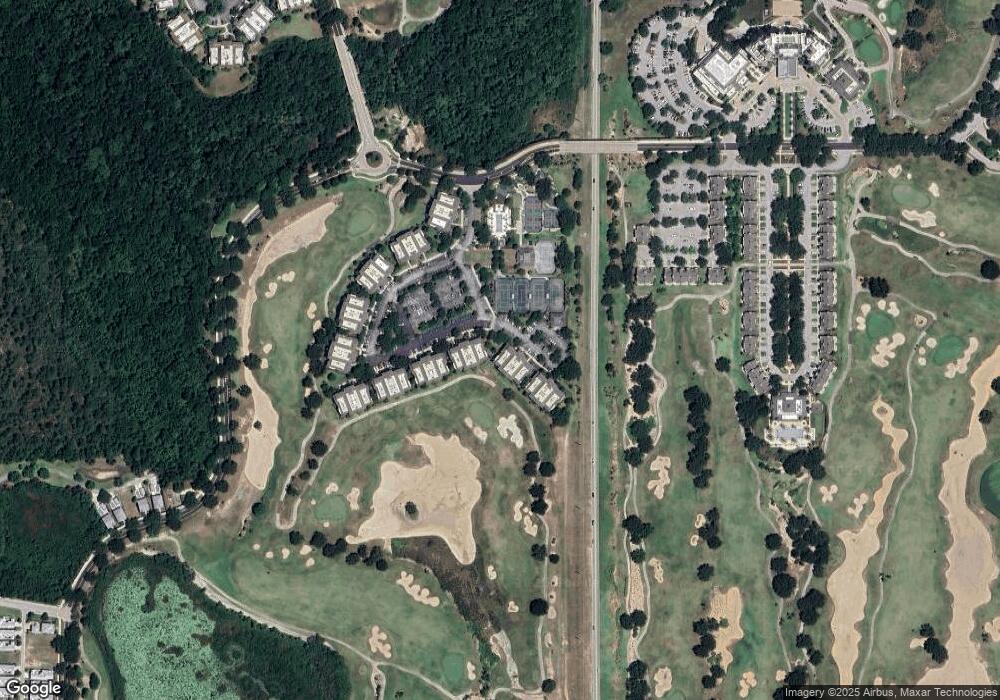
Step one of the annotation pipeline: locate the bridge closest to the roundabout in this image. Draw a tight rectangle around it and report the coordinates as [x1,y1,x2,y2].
[327,28,374,145]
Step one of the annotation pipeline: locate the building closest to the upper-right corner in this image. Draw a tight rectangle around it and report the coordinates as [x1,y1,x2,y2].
[824,58,867,100]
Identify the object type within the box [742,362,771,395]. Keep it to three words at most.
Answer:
house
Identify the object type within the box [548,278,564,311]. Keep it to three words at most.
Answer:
tennis court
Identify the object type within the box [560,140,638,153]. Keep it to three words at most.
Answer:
bridge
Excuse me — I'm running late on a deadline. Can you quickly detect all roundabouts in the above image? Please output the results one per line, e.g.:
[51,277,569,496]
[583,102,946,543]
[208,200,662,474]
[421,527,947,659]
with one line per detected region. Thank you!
[358,143,390,174]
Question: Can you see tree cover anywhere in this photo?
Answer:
Yes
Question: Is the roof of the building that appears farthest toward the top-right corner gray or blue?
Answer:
gray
